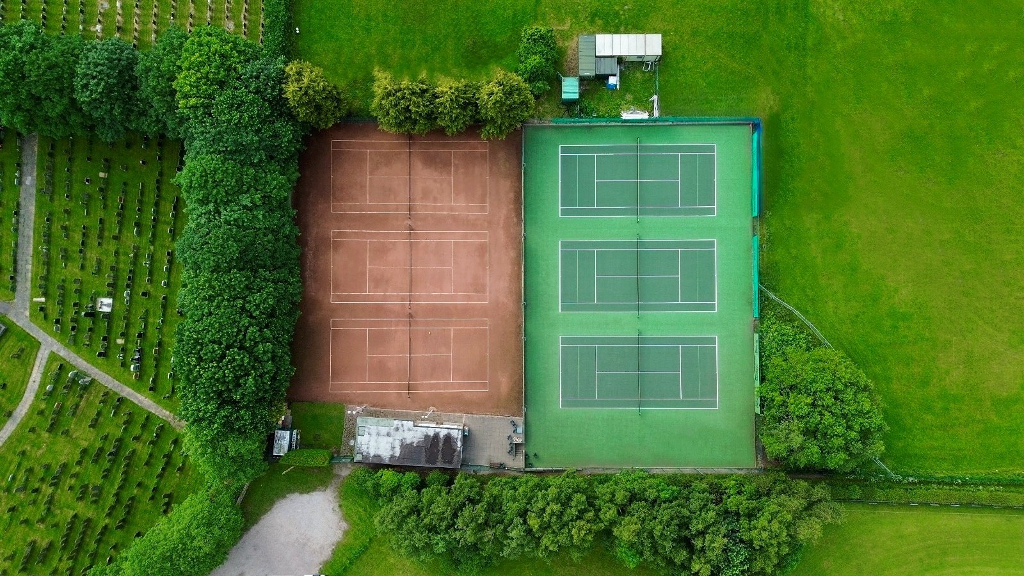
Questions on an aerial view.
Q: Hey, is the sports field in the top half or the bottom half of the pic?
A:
bottom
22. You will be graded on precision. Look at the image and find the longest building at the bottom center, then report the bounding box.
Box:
[352,415,463,469]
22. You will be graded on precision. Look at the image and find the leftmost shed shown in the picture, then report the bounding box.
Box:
[273,427,294,456]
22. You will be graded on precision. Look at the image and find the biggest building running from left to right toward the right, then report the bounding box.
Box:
[595,34,661,61]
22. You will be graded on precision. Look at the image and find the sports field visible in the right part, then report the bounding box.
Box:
[807,508,1024,576]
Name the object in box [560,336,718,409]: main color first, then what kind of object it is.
green tennis court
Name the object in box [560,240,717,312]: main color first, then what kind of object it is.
green tennis court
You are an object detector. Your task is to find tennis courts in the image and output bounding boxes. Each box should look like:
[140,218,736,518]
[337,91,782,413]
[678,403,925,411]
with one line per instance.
[560,144,716,216]
[331,231,489,303]
[330,319,488,392]
[560,336,718,409]
[331,141,488,213]
[560,240,717,312]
